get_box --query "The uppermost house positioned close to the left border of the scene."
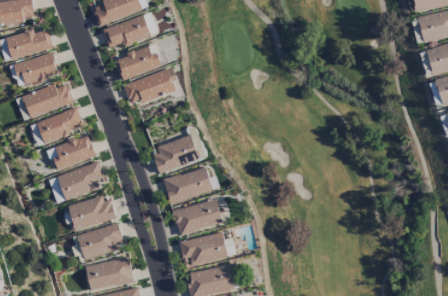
[0,0,34,25]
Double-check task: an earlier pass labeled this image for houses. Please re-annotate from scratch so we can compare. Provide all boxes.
[116,43,160,79]
[85,258,134,292]
[30,110,83,147]
[420,46,448,78]
[188,265,234,296]
[50,164,104,204]
[64,196,115,230]
[175,198,229,235]
[104,12,159,48]
[154,135,199,171]
[9,53,58,86]
[0,0,34,25]
[46,138,94,170]
[124,70,184,104]
[182,233,236,266]
[15,84,72,121]
[165,166,220,202]
[0,30,51,62]
[429,78,448,108]
[414,0,448,10]
[73,223,124,264]
[414,11,448,44]
[96,0,149,26]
